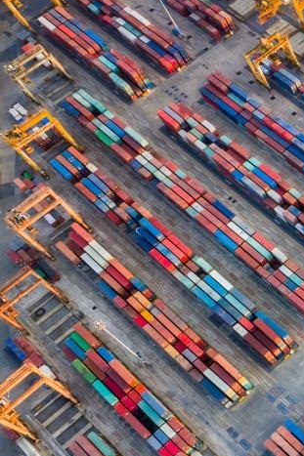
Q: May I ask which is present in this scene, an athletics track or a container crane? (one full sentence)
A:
There is a container crane in the scene.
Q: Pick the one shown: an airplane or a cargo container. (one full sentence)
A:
I can see a cargo container in this picture.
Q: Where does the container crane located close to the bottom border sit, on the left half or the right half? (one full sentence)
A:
The container crane located close to the bottom border is on the left side of the image.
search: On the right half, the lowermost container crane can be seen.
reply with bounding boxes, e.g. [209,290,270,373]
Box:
[241,26,301,89]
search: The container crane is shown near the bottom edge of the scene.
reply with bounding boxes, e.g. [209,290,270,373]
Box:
[0,370,83,446]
